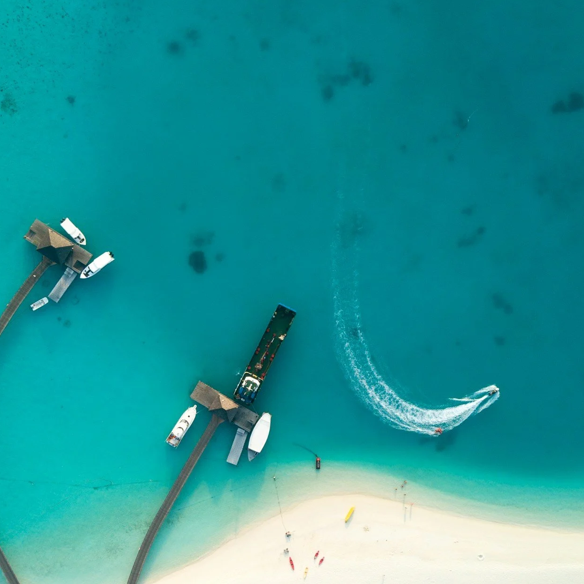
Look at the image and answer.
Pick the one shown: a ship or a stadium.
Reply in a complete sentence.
The image shows a ship.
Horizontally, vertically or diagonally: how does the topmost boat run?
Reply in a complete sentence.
The topmost boat is oriented diagonally.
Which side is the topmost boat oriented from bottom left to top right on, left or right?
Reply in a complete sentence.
The topmost boat oriented from bottom left to top right sits on the left side.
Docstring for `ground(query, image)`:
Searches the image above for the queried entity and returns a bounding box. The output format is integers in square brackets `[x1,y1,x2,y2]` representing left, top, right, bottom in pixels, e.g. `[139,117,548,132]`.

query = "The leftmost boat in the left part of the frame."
[30,297,49,311]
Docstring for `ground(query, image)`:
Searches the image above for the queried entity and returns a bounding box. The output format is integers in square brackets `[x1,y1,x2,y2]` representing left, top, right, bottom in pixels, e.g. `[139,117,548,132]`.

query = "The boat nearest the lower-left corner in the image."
[163,404,196,452]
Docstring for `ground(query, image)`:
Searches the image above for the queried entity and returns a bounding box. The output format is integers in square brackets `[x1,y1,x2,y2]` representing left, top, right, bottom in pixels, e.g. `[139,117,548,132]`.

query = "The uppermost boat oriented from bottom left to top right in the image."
[80,251,115,278]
